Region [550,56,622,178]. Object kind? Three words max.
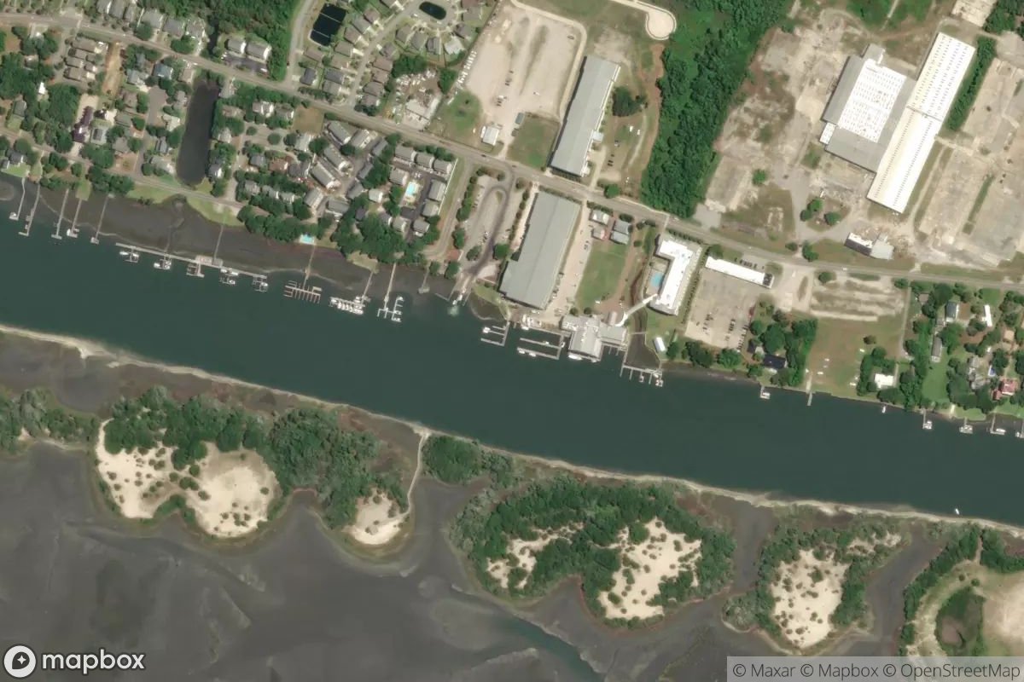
shed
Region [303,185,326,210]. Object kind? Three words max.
building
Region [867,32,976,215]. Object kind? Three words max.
building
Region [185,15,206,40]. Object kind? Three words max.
house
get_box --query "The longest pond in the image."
[177,82,219,186]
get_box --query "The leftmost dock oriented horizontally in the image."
[116,225,268,292]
